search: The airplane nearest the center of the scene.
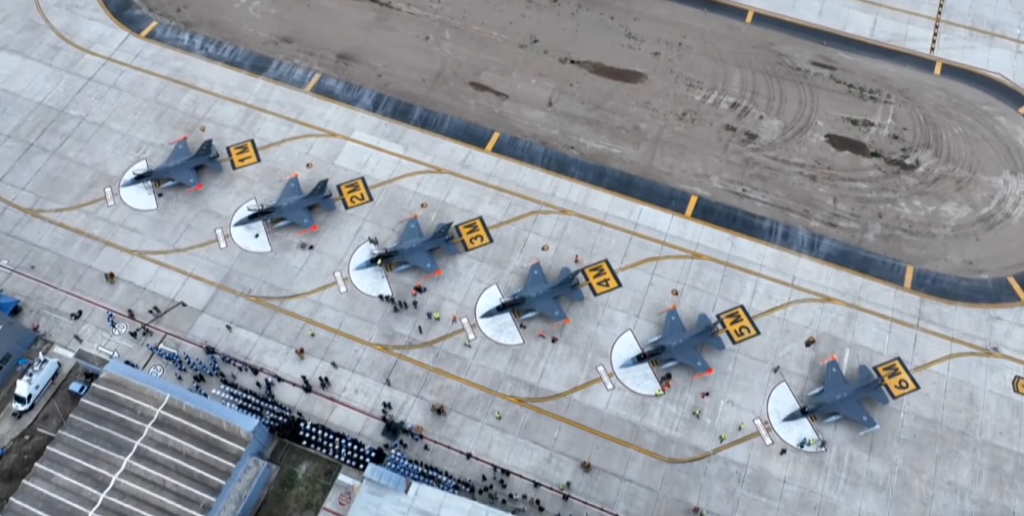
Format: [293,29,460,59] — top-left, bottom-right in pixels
[478,261,582,330]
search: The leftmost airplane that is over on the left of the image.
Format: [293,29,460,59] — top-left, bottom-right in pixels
[120,136,219,193]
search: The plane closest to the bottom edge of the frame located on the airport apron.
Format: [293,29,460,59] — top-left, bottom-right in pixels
[778,356,894,434]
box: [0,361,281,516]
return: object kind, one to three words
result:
building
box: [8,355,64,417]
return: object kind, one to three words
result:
truck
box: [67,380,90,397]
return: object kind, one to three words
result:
car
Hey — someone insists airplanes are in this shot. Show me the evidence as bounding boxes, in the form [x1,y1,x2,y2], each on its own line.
[478,261,582,330]
[120,136,219,193]
[616,306,724,380]
[232,174,332,234]
[778,356,894,434]
[352,215,455,280]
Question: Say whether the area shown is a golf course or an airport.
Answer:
airport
